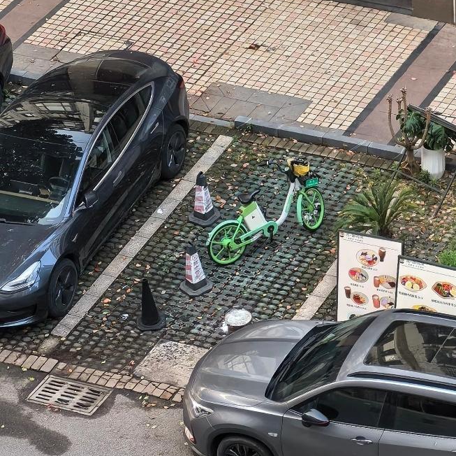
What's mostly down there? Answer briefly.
paved ground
